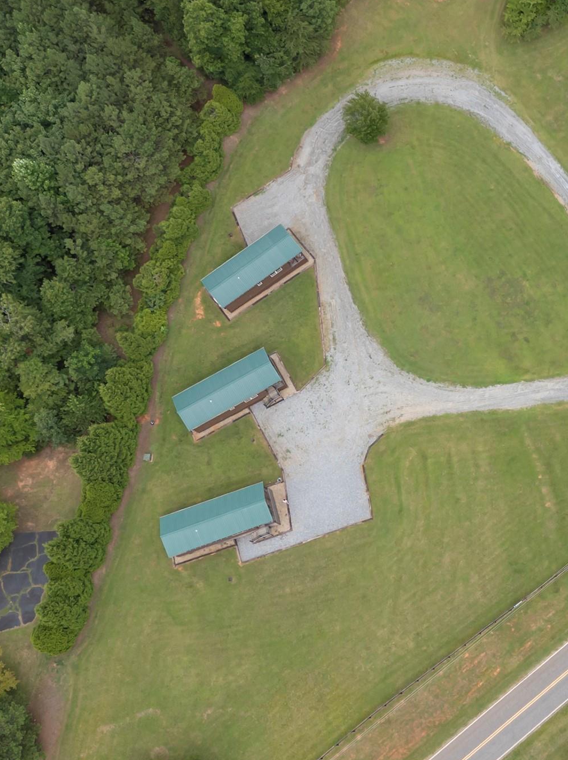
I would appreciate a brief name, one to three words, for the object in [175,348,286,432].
building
